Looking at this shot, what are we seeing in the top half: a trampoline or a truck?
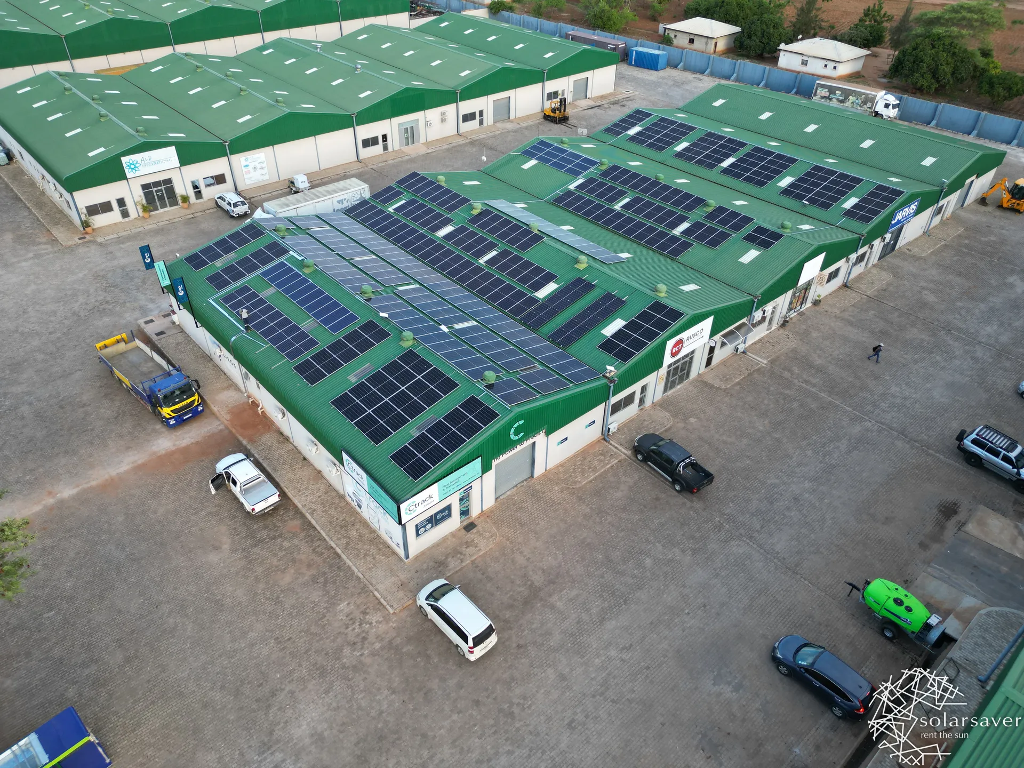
truck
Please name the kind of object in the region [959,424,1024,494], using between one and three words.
car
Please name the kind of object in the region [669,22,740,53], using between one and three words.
house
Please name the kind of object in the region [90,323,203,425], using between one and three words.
truck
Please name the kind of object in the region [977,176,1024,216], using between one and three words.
work vehicle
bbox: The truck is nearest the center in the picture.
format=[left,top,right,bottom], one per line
[631,431,715,496]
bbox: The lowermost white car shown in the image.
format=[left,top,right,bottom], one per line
[414,576,507,663]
